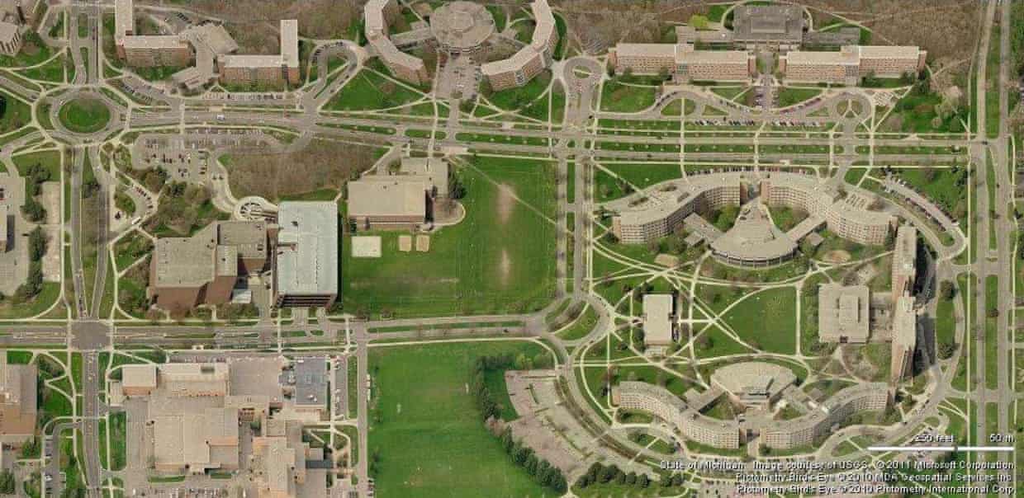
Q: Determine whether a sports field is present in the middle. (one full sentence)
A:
Yes, you'll find a sports field in the middle.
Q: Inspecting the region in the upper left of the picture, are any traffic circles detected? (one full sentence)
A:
Yes, looking in the upper left of the picture, one can make out a traffic circle.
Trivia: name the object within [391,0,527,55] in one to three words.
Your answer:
building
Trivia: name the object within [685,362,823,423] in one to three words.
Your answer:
building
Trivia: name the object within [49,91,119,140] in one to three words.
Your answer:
roundabout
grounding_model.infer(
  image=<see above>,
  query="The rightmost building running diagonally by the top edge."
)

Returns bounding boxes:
[481,0,556,90]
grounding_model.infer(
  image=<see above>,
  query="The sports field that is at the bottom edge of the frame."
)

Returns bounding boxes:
[368,340,565,498]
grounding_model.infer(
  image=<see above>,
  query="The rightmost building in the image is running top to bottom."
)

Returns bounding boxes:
[891,227,928,387]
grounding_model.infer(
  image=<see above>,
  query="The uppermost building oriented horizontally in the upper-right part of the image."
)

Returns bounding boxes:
[675,5,860,53]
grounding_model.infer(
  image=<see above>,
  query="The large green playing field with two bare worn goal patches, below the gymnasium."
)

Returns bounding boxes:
[341,158,557,318]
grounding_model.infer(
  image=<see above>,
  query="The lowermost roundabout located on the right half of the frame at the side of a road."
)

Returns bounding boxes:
[829,93,870,122]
